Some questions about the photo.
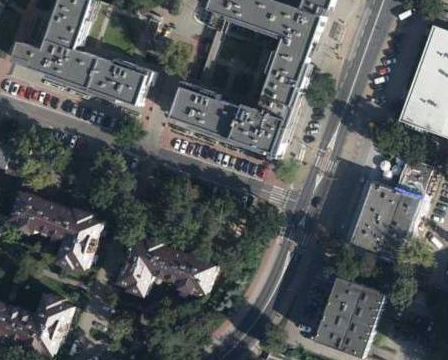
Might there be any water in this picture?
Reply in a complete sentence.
No, the picture contains no water.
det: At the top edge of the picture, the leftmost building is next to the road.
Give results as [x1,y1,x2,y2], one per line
[11,0,154,113]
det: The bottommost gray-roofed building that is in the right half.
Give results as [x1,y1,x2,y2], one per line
[317,276,385,358]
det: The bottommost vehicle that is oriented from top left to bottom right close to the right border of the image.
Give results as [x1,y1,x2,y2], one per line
[427,232,443,248]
